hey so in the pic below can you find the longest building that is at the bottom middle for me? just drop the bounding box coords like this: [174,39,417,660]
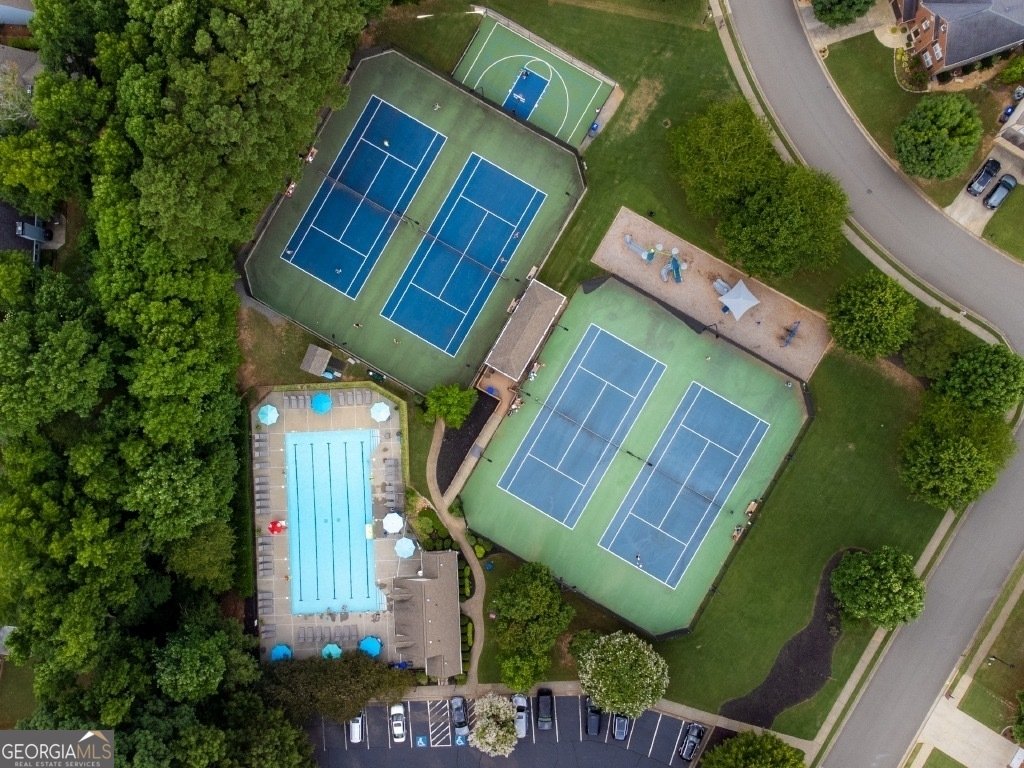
[391,551,461,680]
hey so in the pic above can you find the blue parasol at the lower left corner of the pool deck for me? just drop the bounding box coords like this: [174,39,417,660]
[270,640,293,663]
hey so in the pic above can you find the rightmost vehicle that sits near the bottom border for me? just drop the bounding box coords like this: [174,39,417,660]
[678,720,703,762]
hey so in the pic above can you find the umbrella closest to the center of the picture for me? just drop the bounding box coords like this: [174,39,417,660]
[370,401,391,422]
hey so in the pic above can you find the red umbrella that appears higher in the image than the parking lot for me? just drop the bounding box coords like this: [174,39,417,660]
[270,518,286,534]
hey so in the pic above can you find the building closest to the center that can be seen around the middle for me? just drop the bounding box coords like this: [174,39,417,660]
[485,280,567,381]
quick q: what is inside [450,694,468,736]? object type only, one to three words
car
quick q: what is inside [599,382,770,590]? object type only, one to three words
tennis court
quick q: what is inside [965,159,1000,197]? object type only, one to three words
car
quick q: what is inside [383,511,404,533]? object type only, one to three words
umbrella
